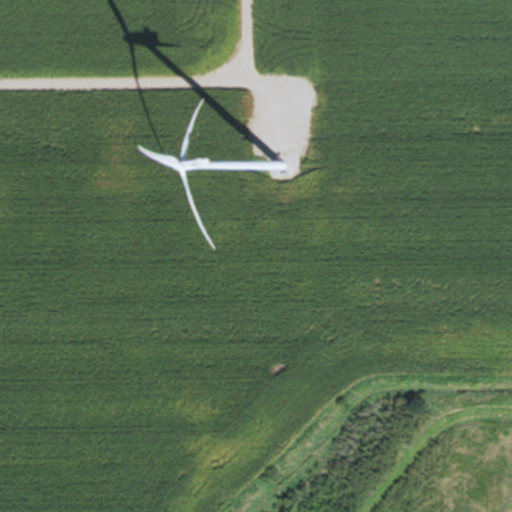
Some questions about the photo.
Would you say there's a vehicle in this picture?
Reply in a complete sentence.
No, this view has no vehicle in it.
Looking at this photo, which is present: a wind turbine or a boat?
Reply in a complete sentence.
Looking from above, you can make out a wind turbine.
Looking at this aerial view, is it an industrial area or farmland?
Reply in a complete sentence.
This looks like farmland.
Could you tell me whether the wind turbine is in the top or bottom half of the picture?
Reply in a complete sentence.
The wind turbine sits in the top half of the picture.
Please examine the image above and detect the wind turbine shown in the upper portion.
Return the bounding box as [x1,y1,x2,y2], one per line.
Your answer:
[138,98,290,248]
